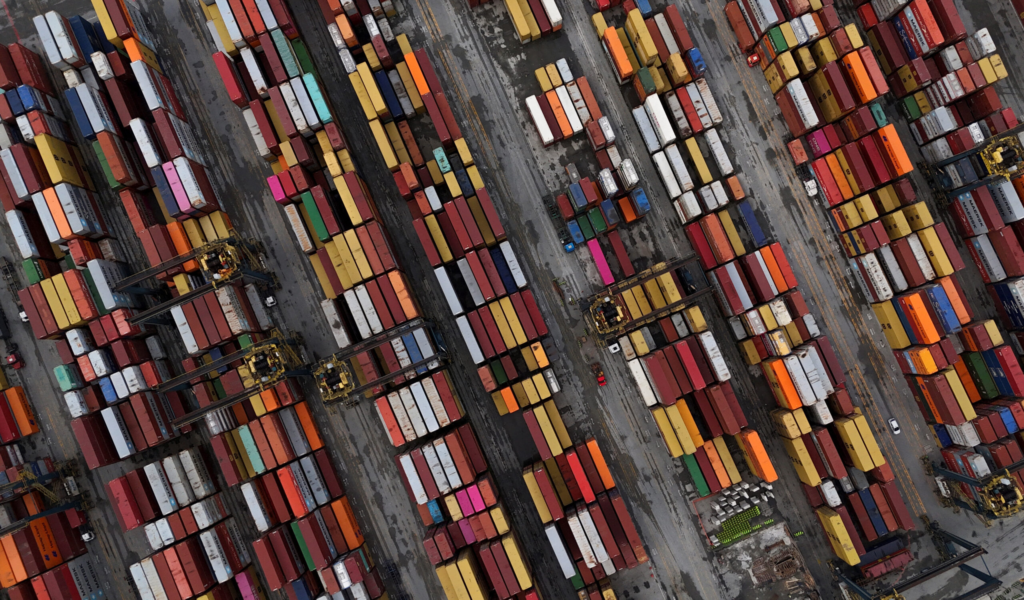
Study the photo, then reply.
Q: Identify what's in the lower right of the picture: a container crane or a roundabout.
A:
container crane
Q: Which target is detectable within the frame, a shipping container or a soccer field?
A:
shipping container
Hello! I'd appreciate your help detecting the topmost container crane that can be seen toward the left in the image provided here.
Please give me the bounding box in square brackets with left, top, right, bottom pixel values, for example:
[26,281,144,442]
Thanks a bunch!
[113,236,279,333]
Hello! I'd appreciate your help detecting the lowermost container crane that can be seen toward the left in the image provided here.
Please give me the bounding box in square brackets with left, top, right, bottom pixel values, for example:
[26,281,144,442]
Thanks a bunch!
[0,459,96,541]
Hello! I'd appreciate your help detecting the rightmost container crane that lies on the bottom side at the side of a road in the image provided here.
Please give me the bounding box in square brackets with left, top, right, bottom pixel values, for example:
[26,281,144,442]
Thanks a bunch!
[920,457,1024,526]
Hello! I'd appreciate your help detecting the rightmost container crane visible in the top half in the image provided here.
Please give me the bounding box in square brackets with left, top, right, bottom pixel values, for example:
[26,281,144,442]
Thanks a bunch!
[918,121,1024,208]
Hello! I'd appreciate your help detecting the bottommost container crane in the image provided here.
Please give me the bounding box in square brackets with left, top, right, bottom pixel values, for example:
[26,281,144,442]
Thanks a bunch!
[823,513,1003,600]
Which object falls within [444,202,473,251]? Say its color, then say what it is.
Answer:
red shipping container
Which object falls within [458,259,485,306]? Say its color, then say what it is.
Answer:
gray shipping container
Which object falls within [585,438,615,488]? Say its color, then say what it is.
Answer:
orange shipping container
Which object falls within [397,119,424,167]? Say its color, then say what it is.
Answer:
red shipping container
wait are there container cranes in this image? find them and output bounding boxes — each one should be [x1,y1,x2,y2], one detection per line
[309,314,451,408]
[823,513,1003,600]
[155,334,317,431]
[0,459,96,541]
[573,250,714,345]
[918,121,1024,208]
[920,457,1024,526]
[113,236,279,333]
